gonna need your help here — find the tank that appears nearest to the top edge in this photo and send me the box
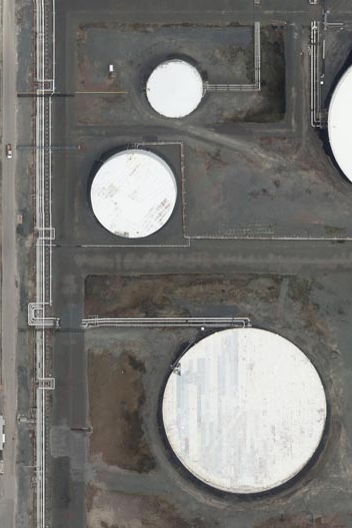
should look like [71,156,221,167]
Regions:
[144,57,208,120]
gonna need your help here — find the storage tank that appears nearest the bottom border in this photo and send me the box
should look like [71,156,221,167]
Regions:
[157,326,330,498]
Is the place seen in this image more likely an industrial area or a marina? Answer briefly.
industrial area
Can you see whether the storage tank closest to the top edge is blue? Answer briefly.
No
